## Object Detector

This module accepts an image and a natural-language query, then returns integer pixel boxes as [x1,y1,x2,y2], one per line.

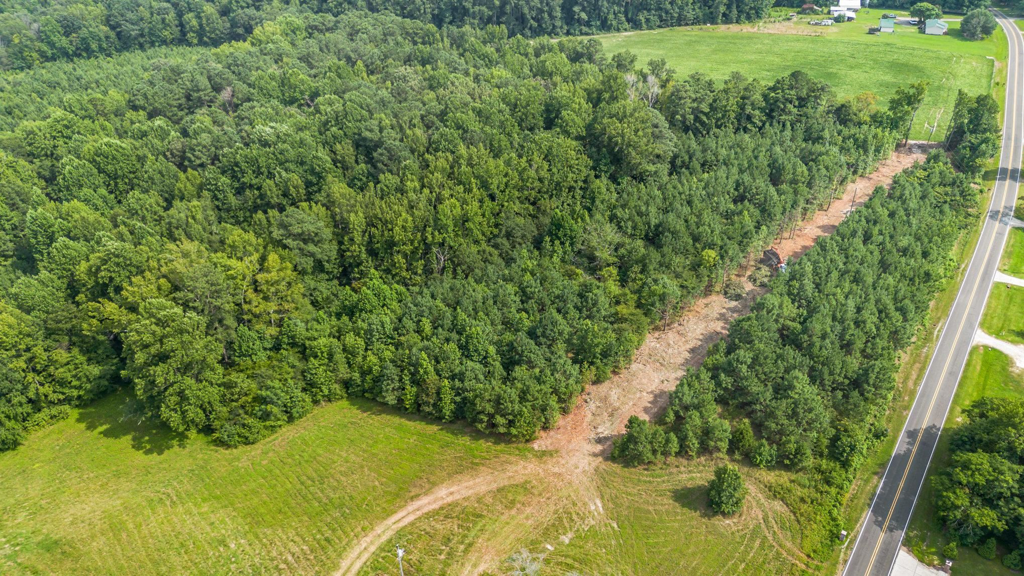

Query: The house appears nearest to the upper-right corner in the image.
[916,21,951,35]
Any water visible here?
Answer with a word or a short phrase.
No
